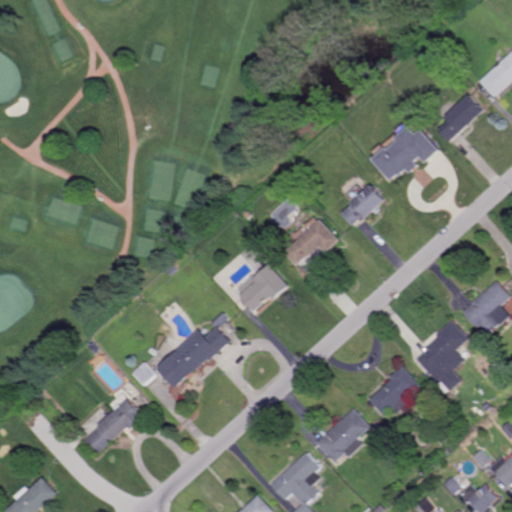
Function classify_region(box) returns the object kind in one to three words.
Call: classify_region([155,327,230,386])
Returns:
house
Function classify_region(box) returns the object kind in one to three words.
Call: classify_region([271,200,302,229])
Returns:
building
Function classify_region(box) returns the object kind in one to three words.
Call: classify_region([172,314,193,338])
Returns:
swimming pool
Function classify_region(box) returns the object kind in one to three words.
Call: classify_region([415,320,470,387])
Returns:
house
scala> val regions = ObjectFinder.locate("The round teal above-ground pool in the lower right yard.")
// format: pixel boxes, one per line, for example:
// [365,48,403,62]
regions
[460,459,478,477]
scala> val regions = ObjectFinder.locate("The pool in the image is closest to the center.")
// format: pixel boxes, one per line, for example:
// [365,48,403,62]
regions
[229,264,252,284]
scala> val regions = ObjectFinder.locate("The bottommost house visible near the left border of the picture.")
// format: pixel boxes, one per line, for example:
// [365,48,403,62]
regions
[2,477,56,512]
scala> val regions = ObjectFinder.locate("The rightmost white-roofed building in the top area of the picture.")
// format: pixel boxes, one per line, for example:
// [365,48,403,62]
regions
[479,52,512,98]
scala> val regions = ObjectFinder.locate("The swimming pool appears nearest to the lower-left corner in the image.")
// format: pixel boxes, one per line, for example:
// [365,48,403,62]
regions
[96,362,124,392]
